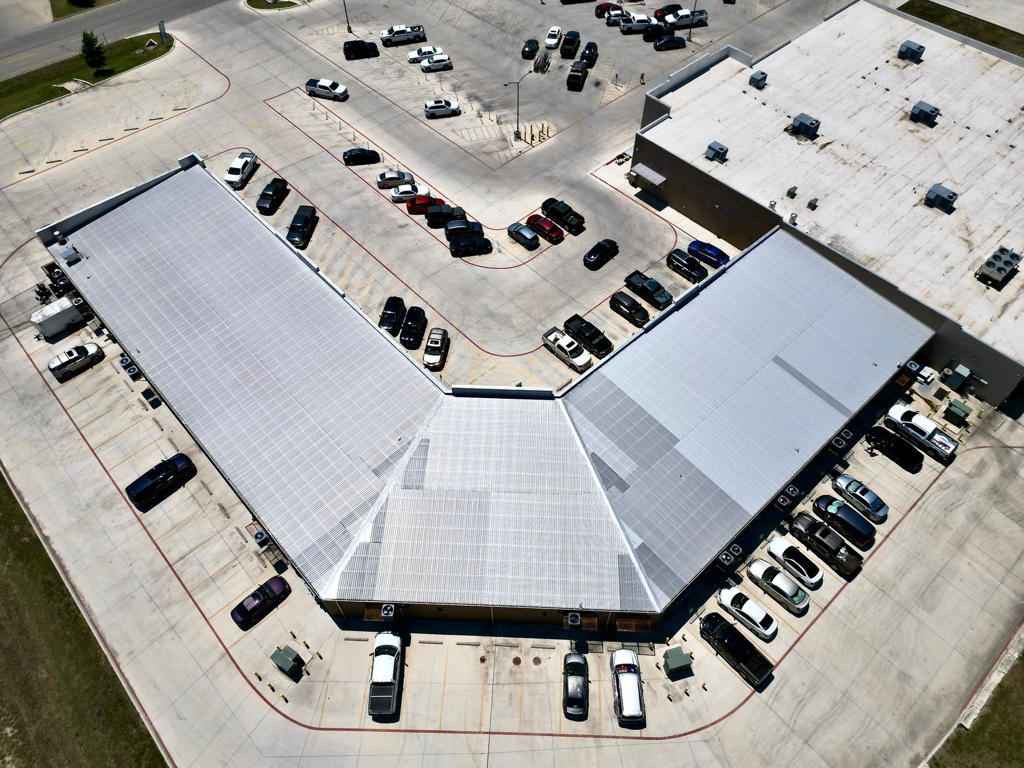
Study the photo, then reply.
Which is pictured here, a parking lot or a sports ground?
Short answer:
parking lot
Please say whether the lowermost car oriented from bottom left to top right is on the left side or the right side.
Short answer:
left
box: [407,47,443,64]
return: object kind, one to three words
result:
car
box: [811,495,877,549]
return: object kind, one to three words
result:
vehicle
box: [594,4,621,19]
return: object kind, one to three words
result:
car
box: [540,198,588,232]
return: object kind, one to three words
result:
truck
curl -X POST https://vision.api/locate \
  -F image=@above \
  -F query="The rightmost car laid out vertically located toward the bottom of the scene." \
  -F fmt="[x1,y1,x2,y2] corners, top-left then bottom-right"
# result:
[611,649,645,722]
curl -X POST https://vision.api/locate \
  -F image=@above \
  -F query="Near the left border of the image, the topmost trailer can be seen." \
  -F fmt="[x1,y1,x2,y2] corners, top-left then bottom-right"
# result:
[31,293,85,329]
